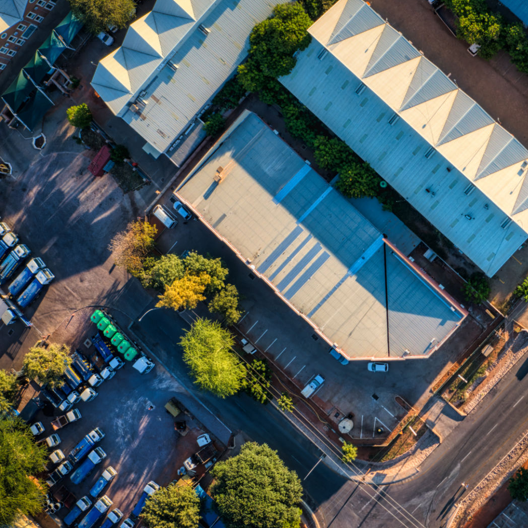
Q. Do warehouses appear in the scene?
Yes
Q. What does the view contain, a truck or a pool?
truck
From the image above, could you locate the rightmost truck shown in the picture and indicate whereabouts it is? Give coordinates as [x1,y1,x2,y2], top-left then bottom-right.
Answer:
[464,38,485,61]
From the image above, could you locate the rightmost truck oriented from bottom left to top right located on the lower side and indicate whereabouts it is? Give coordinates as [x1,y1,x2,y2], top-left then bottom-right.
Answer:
[299,374,325,398]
